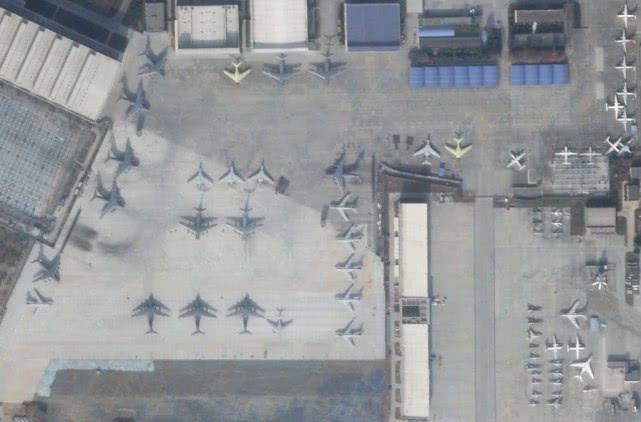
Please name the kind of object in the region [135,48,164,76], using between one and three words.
airplane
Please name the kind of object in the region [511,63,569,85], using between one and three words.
building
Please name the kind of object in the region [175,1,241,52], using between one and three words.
hangar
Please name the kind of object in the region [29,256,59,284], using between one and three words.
airplane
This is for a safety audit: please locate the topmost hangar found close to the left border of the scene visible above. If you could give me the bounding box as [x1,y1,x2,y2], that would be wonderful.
[0,6,121,122]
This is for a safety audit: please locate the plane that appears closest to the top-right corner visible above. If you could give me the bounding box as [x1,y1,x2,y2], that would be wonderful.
[619,5,637,27]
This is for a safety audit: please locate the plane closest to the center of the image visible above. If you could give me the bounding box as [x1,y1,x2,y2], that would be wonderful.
[331,195,357,220]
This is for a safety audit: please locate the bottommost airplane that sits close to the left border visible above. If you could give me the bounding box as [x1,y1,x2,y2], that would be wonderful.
[26,292,53,316]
